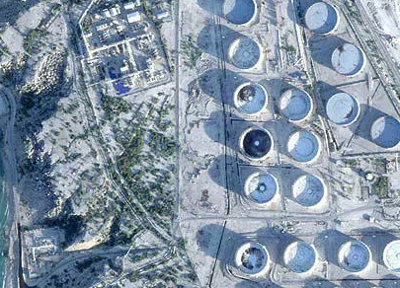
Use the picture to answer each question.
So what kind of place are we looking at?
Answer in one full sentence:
This looks like an industrial area.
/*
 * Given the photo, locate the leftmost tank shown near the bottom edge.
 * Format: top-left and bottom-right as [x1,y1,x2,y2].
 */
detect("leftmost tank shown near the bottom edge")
[236,242,272,278]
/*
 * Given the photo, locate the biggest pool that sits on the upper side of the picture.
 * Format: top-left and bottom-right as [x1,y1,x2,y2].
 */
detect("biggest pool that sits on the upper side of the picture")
[111,79,129,95]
